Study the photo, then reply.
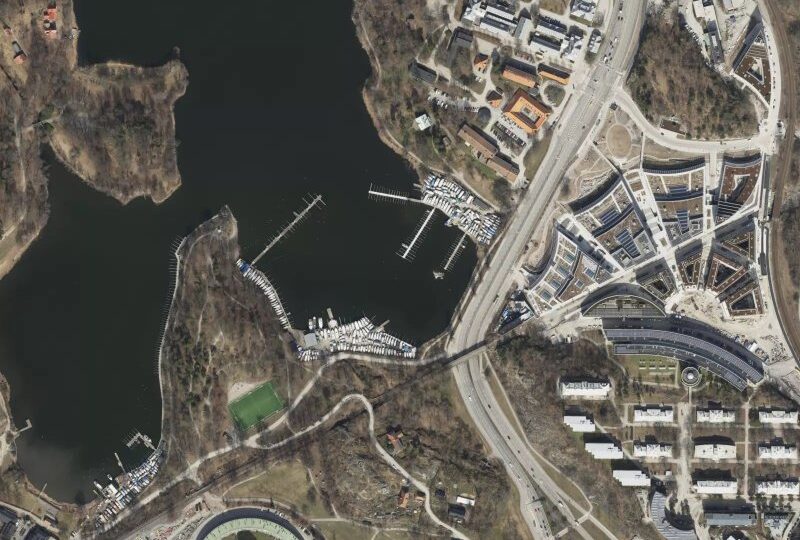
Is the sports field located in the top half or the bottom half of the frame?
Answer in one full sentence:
You can find the sports field in the bottom half.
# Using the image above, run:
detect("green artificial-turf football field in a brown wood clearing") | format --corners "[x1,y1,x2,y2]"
[228,381,287,431]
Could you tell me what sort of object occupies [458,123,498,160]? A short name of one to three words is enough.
house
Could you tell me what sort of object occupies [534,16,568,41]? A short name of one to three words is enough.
building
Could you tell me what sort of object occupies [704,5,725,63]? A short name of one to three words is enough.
shed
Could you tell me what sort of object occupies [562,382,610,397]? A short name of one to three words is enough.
building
